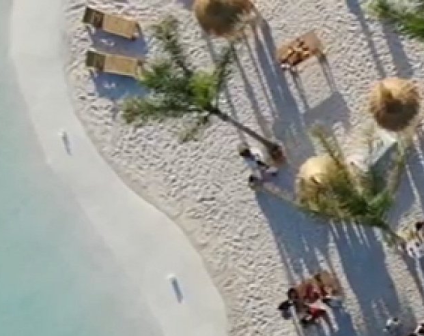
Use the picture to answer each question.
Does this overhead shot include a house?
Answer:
No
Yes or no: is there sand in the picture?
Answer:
Yes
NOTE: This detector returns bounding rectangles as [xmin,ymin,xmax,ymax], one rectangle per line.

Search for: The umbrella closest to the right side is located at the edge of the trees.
[368,79,423,133]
